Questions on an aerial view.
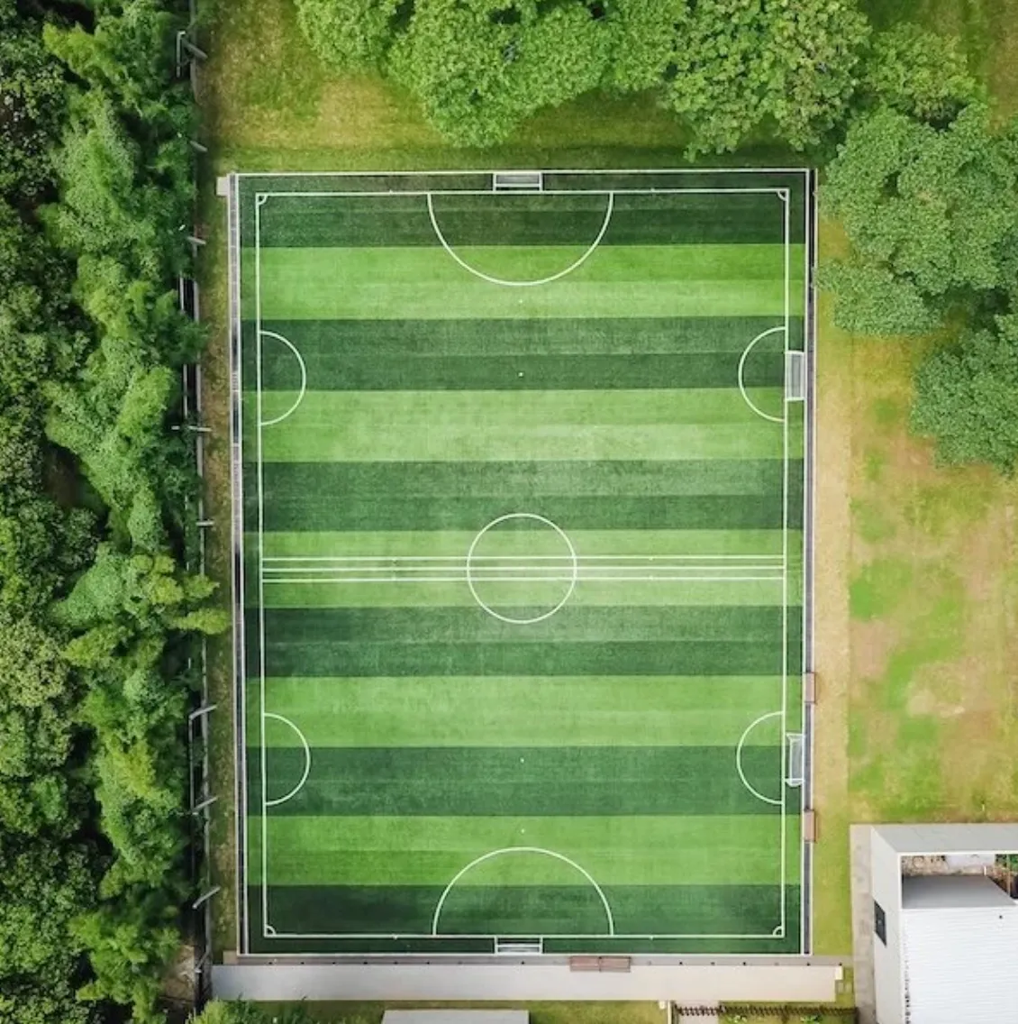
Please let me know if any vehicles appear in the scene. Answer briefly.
No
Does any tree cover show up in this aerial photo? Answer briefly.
Yes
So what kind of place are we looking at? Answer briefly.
sports ground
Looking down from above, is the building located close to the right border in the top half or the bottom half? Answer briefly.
bottom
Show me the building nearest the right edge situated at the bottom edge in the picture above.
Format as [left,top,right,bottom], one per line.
[872,821,1018,1024]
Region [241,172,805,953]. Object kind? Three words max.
soccer field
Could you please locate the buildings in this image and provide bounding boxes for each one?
[872,821,1018,1024]
[385,1009,529,1024]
